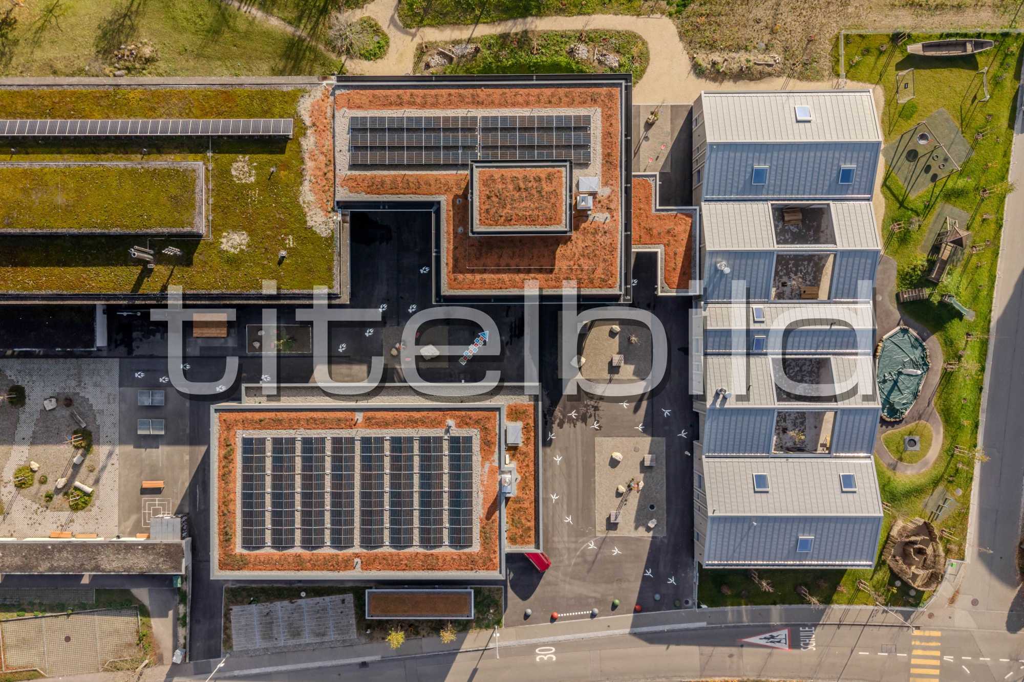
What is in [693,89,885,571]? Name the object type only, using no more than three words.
building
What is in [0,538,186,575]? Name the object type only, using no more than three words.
shed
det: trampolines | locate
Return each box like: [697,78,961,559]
[905,436,920,450]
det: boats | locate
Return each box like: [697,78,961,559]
[907,39,994,55]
